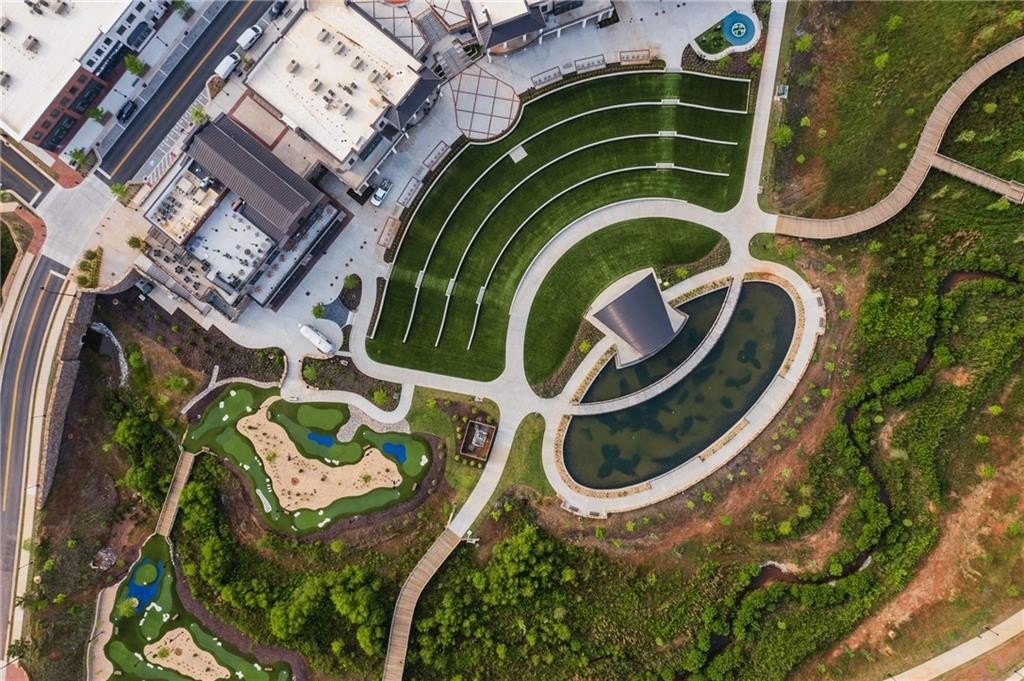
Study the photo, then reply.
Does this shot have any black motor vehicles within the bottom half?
No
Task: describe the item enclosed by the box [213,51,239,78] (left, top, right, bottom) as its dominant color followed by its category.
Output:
white car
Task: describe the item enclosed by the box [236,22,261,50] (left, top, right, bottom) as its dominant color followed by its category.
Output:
white car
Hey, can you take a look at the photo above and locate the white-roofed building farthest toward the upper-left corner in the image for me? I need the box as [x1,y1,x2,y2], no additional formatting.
[0,0,176,155]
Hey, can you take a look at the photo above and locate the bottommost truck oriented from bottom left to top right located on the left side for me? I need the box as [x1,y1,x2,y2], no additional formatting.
[369,180,392,209]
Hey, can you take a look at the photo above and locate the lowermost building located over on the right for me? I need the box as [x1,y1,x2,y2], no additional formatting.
[583,268,690,370]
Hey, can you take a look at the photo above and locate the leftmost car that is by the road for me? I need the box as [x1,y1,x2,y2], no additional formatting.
[113,98,137,123]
